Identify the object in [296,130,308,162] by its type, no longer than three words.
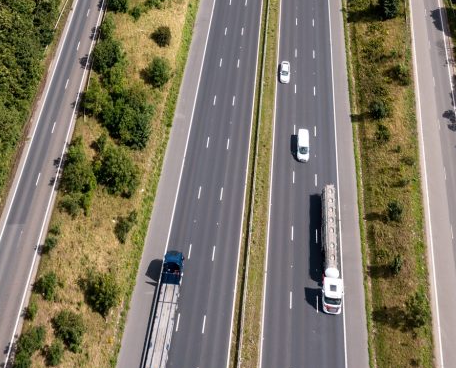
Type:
vehicle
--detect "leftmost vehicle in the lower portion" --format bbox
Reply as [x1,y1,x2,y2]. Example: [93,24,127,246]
[146,253,186,368]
